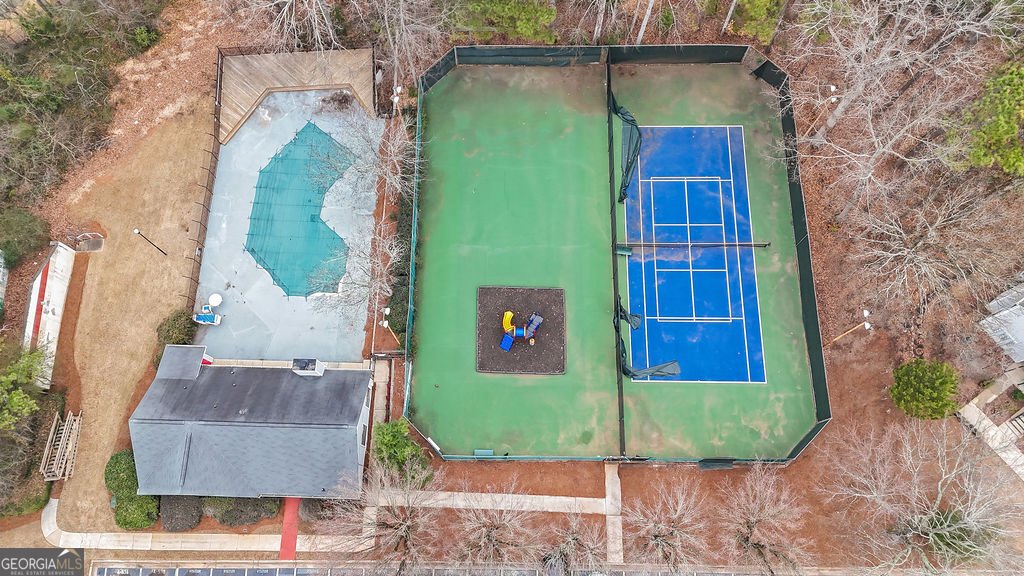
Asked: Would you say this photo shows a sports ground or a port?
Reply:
sports ground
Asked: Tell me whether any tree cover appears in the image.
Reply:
Yes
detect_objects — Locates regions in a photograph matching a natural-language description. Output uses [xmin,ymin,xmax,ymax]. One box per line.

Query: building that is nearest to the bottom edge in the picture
[129,344,376,500]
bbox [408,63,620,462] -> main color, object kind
green sports court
